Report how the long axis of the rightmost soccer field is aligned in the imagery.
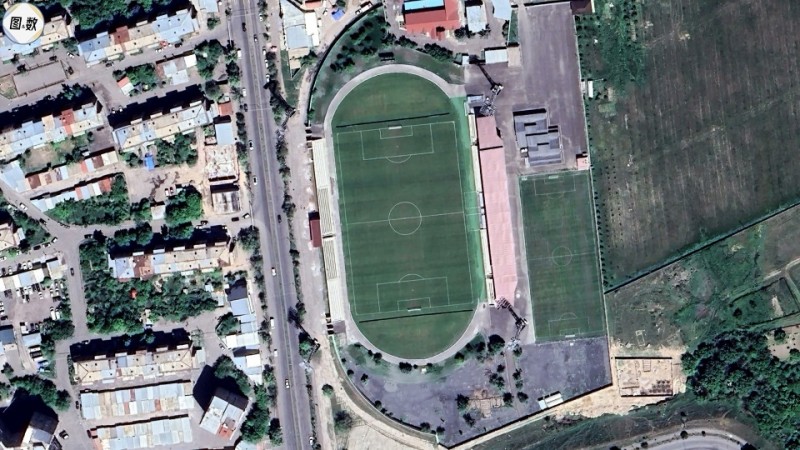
vertically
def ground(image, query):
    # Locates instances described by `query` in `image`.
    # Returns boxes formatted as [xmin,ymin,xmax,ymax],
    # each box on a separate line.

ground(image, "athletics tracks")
[326,67,486,370]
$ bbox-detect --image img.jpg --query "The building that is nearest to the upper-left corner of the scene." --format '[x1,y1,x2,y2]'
[0,9,71,60]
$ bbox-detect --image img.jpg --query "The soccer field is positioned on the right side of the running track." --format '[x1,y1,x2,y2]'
[520,170,606,344]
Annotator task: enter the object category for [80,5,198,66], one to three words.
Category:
building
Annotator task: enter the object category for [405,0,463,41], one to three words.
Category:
building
